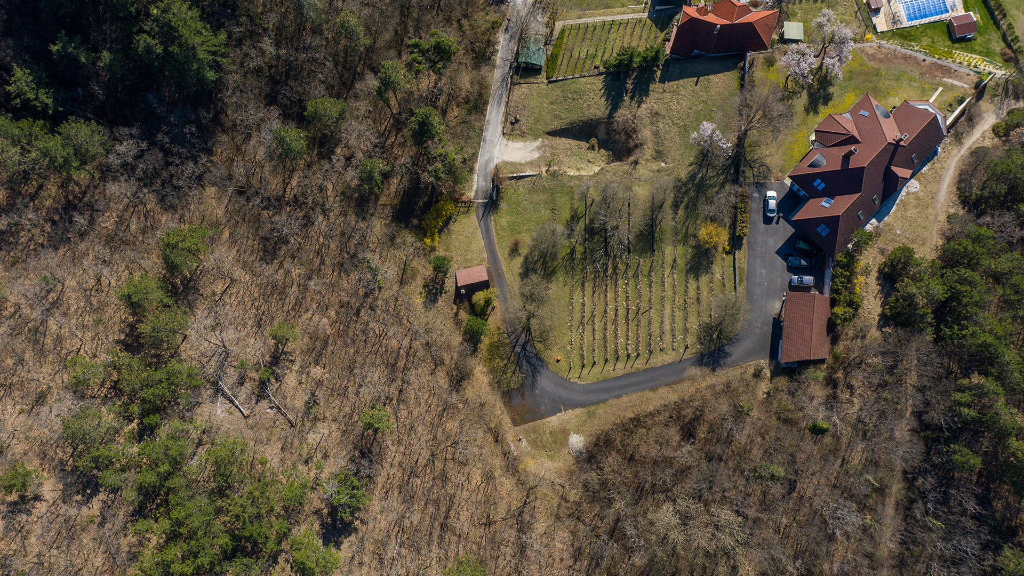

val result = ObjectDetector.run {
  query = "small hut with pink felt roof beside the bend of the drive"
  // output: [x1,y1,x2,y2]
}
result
[456,265,490,295]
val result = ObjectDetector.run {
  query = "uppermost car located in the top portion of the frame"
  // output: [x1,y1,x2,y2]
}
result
[765,193,778,217]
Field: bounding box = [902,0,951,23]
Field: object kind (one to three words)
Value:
swimming pool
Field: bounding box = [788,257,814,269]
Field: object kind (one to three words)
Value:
vehicle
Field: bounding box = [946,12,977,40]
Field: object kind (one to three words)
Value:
building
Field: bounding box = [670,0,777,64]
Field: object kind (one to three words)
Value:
house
